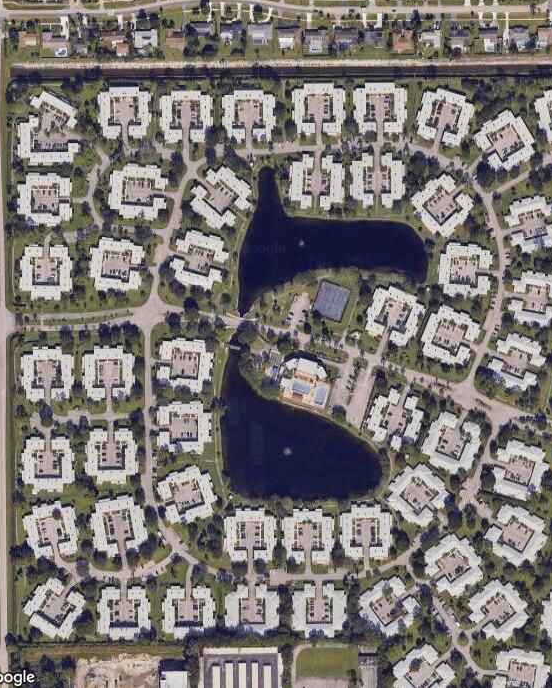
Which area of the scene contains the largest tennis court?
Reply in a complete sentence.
The largest tennis court sits in the center section of the image.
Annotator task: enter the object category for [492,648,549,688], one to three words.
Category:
building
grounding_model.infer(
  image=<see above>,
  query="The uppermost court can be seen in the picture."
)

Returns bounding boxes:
[312,281,350,322]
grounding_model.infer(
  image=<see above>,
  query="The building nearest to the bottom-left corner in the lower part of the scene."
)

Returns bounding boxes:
[21,578,85,640]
